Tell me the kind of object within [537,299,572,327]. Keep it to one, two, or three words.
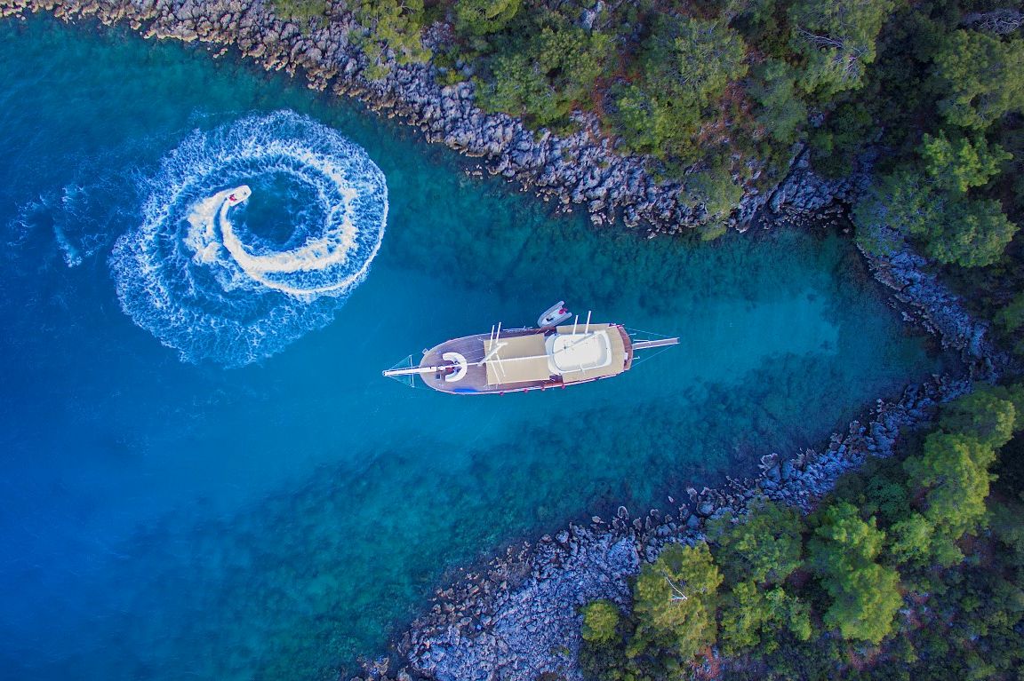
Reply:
boat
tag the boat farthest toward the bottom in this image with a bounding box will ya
[383,314,683,393]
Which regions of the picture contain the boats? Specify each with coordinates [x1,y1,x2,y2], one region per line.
[223,182,251,204]
[537,299,572,327]
[383,314,683,393]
